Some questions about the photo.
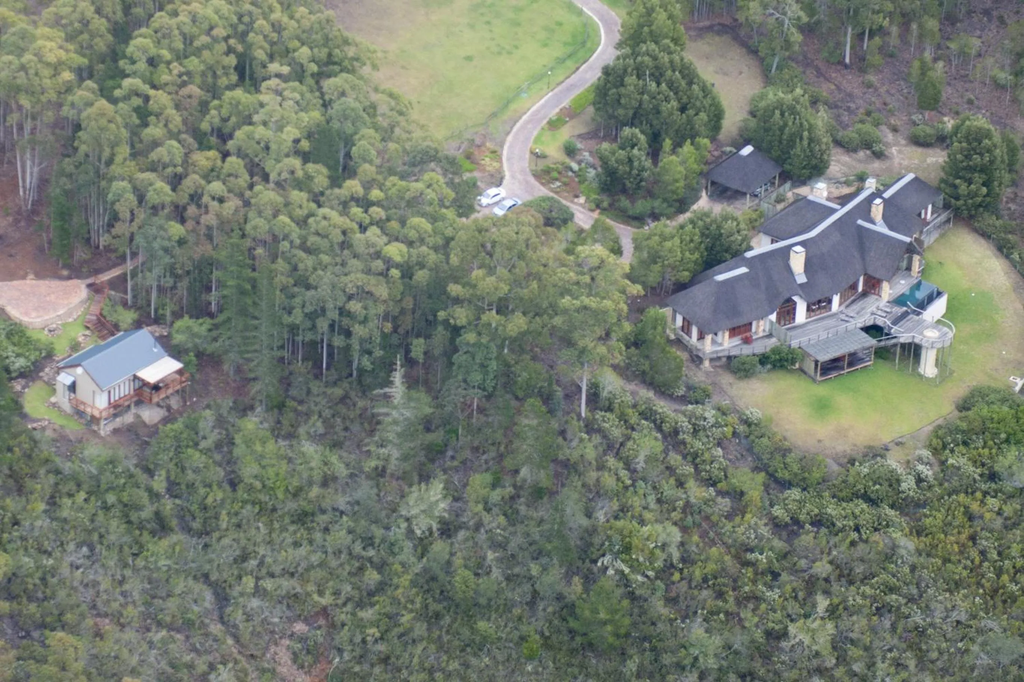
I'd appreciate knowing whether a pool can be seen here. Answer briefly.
Yes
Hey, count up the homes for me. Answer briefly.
two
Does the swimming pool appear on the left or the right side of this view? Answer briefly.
right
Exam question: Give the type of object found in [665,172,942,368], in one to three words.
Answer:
house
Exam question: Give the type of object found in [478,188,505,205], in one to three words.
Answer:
car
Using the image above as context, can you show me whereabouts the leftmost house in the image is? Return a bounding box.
[57,328,184,424]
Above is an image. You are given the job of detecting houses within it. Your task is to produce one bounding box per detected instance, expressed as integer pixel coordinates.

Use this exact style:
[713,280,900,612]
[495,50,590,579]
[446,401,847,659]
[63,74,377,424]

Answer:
[665,172,942,368]
[57,328,184,424]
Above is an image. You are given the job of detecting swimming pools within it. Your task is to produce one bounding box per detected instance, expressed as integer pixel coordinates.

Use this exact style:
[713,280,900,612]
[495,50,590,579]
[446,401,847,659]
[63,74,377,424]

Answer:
[891,278,948,326]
